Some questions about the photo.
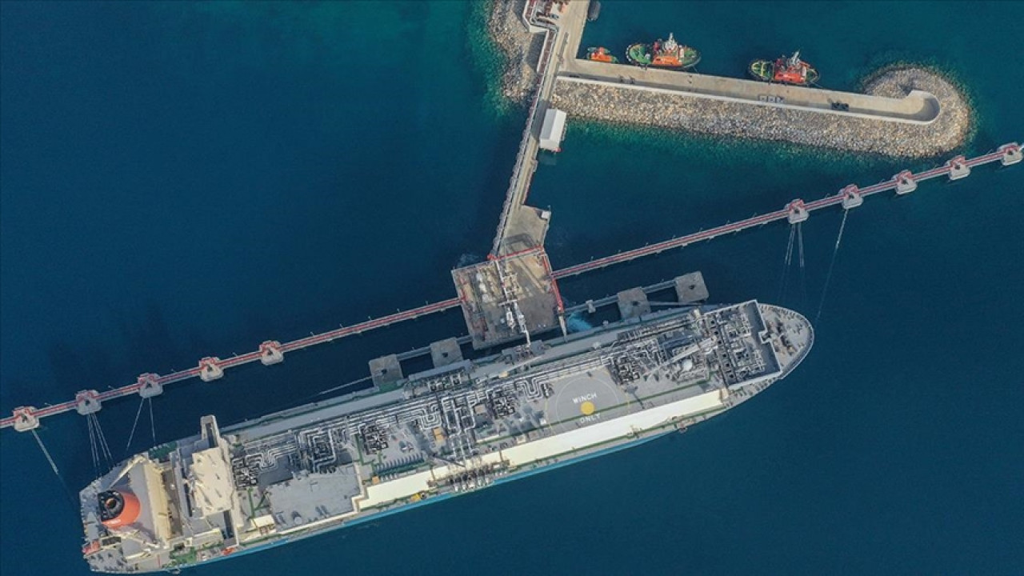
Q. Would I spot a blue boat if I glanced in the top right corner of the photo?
No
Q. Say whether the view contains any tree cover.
No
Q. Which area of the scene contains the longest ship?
bottom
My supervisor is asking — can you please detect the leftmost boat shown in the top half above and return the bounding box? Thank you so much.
[587,47,618,62]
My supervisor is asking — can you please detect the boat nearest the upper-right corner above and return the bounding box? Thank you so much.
[748,55,821,87]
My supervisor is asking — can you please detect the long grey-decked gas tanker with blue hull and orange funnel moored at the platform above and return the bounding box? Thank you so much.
[77,301,816,574]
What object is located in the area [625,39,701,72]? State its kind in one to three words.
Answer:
boat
